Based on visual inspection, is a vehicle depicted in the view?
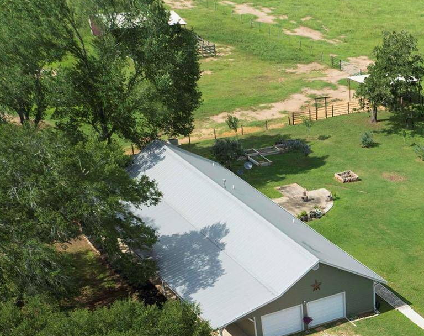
No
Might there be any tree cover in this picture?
Yes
